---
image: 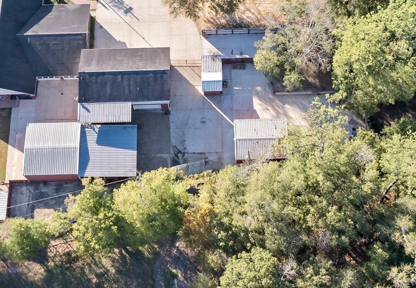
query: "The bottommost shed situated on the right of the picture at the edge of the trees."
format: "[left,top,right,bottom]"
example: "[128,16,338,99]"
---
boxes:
[232,117,288,165]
